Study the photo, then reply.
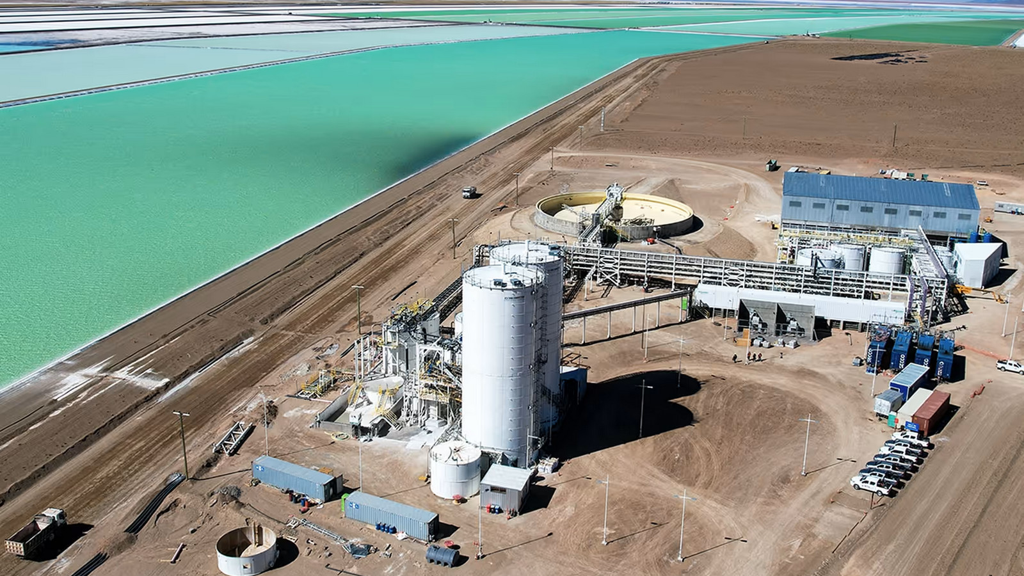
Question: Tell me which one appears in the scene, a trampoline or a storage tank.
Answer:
storage tank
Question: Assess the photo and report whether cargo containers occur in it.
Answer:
Yes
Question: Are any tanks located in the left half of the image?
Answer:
Yes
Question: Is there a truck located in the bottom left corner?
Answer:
Yes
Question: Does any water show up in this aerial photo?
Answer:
Yes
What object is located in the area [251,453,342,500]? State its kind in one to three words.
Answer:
shipping container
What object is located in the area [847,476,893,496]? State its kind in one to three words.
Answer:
vehicle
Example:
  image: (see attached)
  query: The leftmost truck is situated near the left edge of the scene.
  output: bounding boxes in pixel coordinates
[4,504,76,559]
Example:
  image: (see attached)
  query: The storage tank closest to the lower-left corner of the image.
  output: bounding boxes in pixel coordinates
[217,516,276,575]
